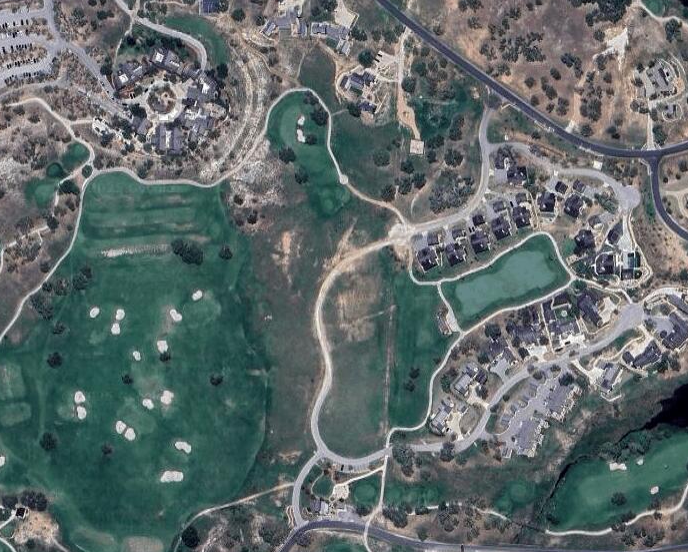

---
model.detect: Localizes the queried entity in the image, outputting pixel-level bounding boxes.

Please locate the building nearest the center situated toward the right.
[417,233,439,273]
